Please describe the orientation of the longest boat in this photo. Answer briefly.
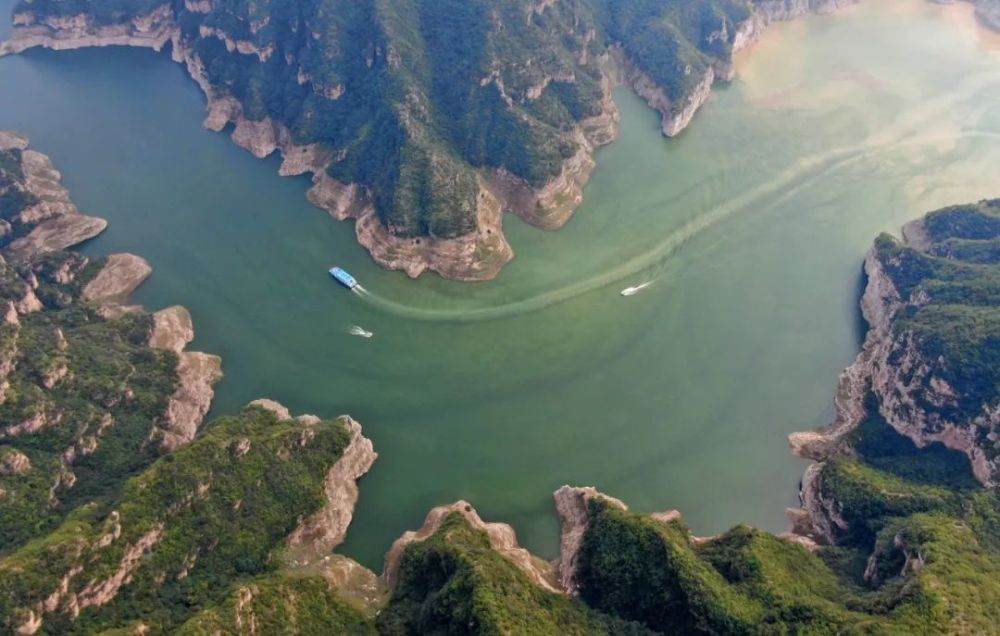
at an angle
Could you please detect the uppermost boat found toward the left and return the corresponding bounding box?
[331,268,357,288]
